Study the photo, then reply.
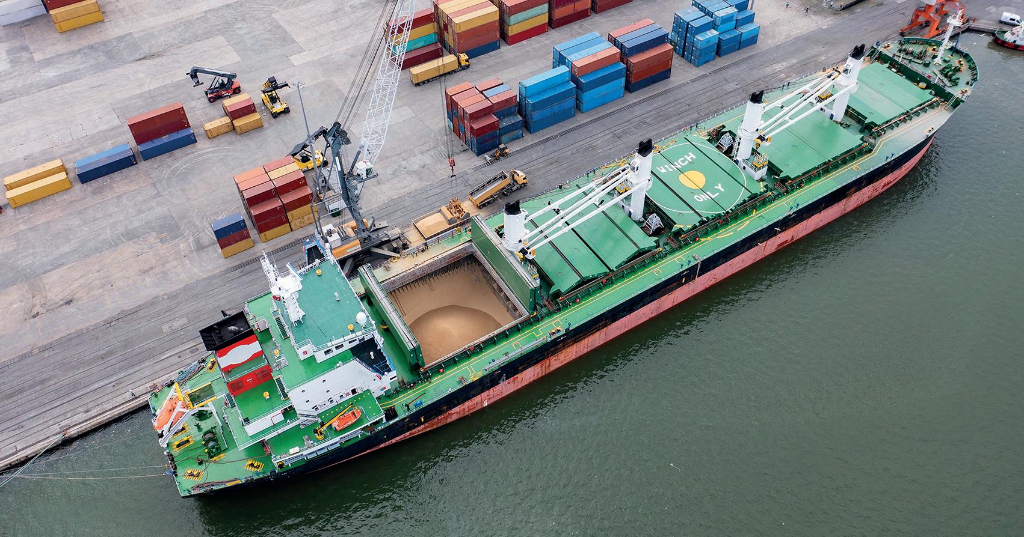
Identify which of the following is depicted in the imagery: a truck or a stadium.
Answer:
truck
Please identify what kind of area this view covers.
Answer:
port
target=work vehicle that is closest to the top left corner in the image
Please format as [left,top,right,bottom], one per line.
[179,66,238,100]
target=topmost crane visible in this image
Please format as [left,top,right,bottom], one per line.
[896,0,956,40]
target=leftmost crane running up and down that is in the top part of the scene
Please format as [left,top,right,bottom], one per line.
[311,0,456,281]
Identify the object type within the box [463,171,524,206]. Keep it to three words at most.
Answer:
truck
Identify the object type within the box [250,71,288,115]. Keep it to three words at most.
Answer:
work vehicle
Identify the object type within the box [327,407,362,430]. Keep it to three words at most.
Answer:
boat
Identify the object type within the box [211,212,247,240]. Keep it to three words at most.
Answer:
shipping container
